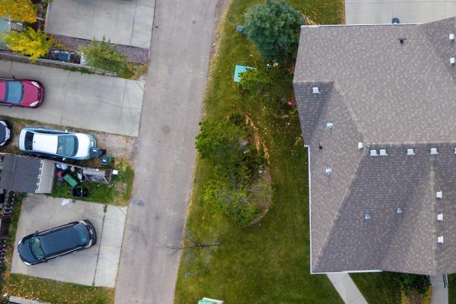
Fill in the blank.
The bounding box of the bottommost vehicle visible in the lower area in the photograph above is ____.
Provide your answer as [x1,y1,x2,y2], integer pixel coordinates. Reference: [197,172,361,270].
[9,217,96,268]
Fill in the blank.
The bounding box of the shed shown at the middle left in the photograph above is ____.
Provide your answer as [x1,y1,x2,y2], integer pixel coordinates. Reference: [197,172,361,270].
[1,152,73,193]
